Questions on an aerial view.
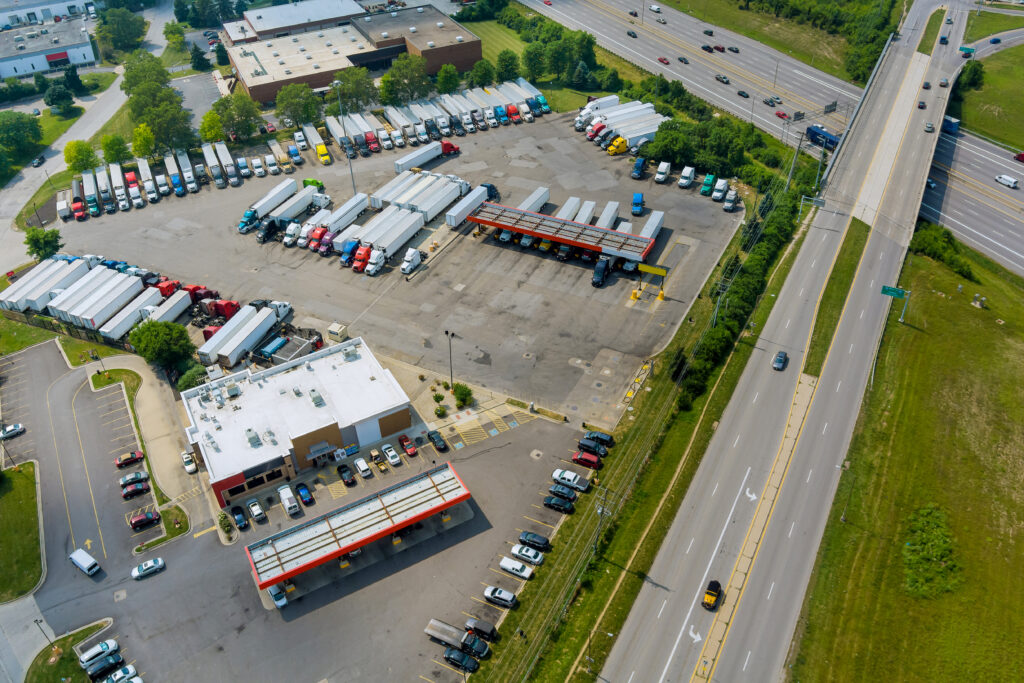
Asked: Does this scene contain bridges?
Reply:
Yes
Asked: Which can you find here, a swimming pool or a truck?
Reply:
truck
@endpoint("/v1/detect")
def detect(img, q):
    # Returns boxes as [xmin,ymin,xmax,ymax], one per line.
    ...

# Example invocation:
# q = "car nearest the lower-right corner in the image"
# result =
[701,575,724,611]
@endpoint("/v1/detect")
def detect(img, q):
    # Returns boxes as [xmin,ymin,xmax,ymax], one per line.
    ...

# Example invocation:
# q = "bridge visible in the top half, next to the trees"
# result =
[814,48,954,250]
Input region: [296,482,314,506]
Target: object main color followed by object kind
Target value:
blue car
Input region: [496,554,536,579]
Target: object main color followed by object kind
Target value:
white truck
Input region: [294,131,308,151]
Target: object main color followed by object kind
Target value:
white vehicle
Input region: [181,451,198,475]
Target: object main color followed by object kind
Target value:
white car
